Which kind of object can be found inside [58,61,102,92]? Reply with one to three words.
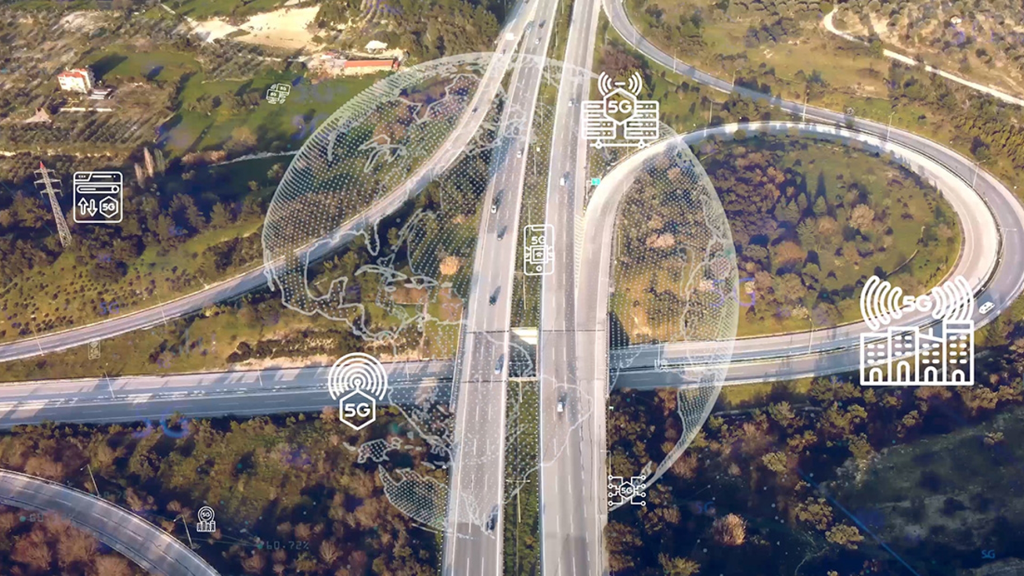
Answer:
house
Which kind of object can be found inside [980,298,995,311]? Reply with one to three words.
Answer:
vehicle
